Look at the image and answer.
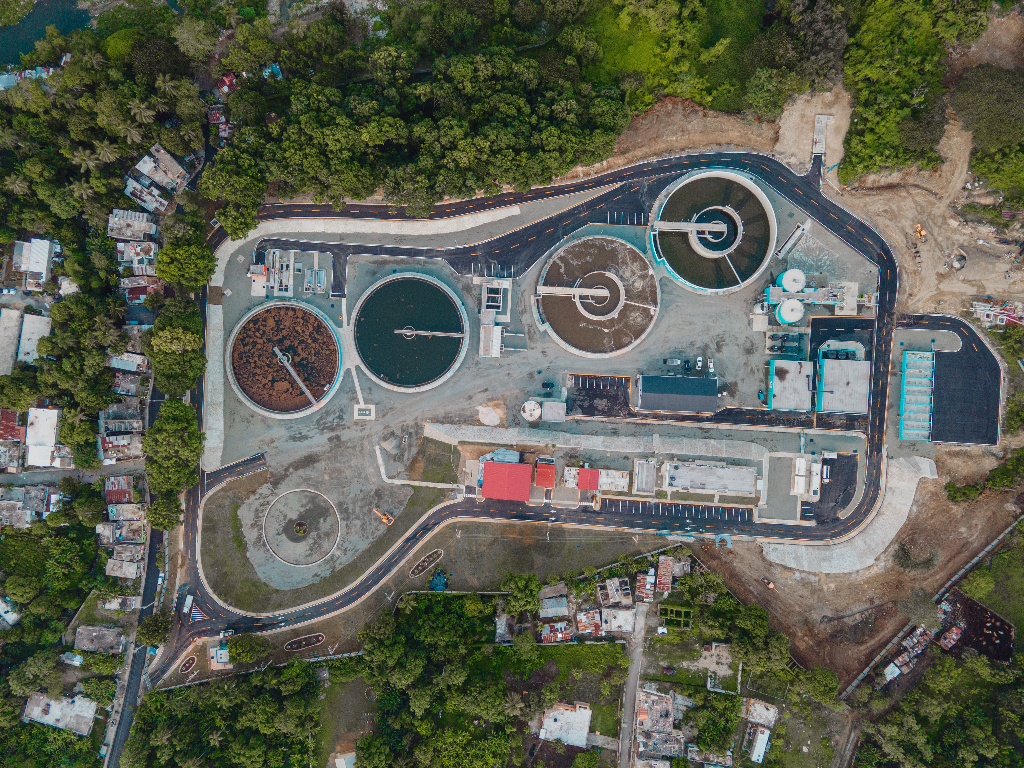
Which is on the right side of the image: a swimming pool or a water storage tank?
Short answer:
water storage tank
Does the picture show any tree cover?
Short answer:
Yes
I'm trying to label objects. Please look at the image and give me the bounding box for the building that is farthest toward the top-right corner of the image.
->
[758,284,846,306]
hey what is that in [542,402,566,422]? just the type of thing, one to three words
building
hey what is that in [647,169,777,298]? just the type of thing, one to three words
water tank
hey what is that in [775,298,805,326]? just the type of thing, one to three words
storage tank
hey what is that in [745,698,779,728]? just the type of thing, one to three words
house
